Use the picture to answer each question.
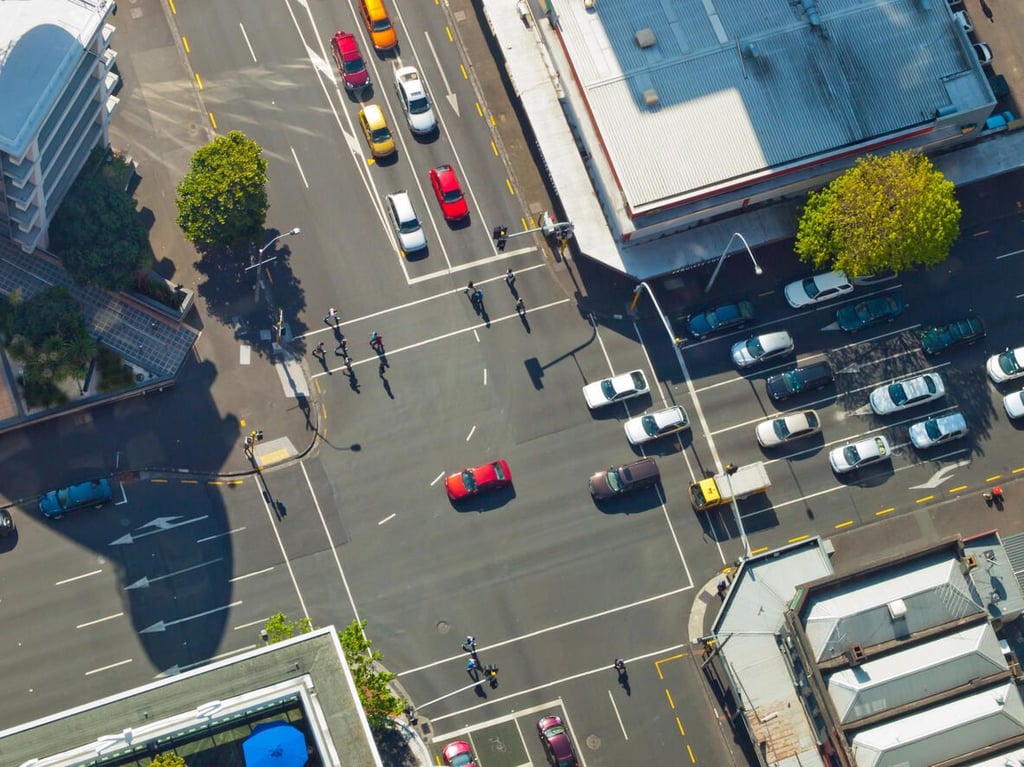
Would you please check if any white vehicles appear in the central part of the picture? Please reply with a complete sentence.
Yes, the scene does show a white vehicle in the central part of the picture.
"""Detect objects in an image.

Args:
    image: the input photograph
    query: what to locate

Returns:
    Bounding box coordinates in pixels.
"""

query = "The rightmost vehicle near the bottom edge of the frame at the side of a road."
[537,713,581,767]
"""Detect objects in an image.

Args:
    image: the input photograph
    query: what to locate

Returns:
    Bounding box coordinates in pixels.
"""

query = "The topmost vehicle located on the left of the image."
[351,0,396,52]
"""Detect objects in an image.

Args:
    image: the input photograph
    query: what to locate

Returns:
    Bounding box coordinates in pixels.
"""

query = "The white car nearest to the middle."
[582,368,651,411]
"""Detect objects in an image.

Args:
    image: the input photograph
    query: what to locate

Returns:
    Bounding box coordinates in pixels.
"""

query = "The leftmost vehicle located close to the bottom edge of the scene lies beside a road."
[445,740,479,767]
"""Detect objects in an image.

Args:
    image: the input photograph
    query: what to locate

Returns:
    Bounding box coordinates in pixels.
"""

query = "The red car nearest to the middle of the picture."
[443,456,515,501]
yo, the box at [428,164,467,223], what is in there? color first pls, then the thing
red car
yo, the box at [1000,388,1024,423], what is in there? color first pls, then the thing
white car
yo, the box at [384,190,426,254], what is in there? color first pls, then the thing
white car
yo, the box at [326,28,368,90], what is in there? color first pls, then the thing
red car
